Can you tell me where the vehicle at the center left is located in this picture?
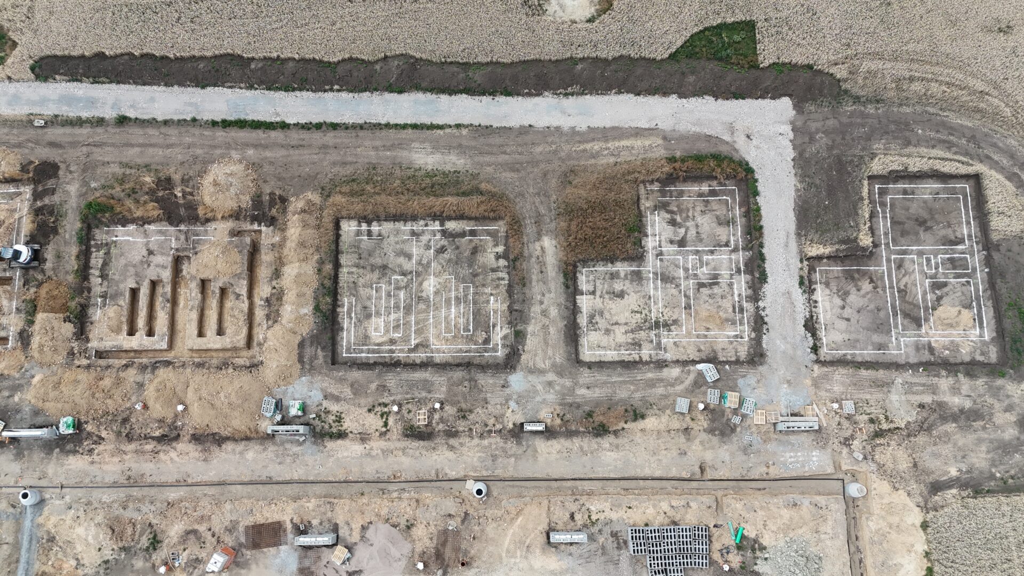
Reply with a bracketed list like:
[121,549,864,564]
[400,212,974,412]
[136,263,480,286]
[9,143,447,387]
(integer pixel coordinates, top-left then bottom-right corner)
[0,240,44,266]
